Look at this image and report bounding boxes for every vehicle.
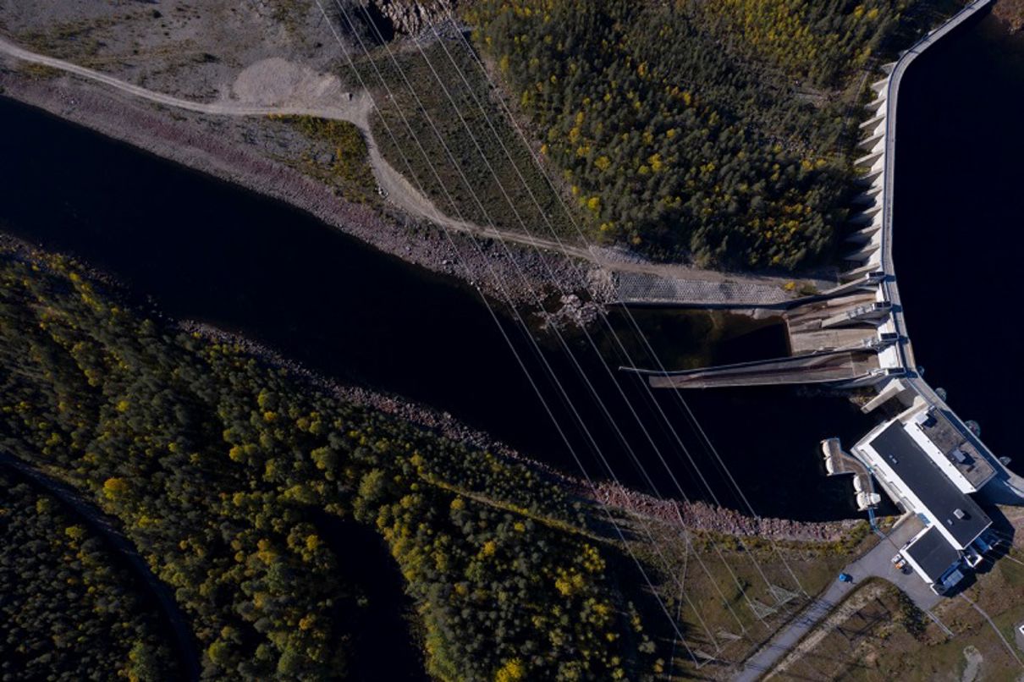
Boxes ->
[890,553,903,565]
[895,558,908,570]
[839,572,848,583]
